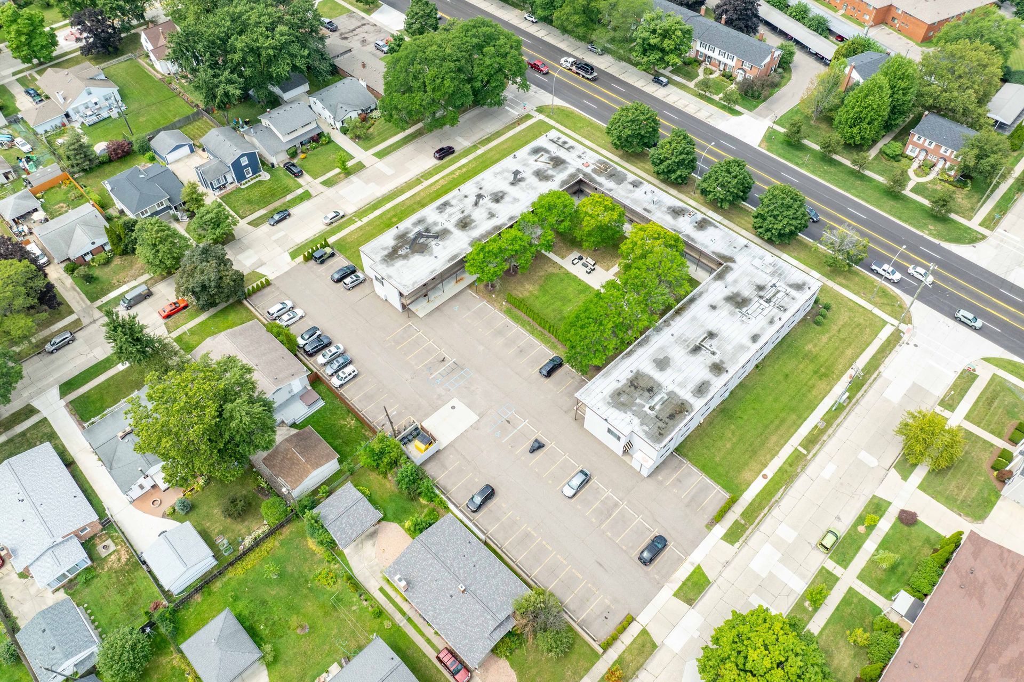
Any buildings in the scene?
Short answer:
Yes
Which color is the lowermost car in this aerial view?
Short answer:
red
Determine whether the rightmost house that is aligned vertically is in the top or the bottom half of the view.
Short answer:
bottom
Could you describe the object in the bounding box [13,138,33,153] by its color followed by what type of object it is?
white car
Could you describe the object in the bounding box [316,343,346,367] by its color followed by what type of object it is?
white car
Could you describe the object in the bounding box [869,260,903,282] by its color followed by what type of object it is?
white truck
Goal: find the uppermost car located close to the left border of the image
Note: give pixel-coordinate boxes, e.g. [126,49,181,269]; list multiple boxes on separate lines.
[24,89,40,102]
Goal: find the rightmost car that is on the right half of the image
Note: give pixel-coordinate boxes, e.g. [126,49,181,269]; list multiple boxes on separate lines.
[953,308,985,331]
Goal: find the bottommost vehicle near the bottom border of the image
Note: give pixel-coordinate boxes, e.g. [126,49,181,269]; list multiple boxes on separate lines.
[436,646,471,682]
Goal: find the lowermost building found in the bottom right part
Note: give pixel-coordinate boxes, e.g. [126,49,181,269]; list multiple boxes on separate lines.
[876,530,1024,682]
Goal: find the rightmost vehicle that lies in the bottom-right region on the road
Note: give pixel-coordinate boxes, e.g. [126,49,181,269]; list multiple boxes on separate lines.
[817,528,841,553]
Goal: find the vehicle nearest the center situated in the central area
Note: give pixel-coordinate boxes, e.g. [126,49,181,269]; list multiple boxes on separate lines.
[538,356,564,378]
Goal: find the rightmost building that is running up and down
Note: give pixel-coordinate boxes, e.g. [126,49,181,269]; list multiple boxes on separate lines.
[995,456,1024,521]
